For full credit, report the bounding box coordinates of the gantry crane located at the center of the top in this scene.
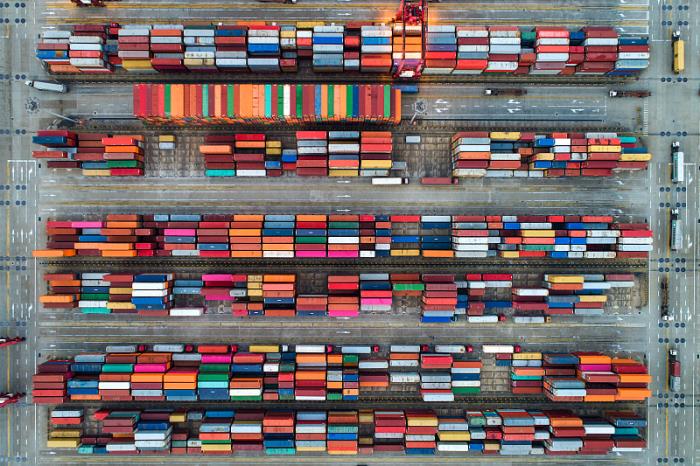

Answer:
[389,0,428,80]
